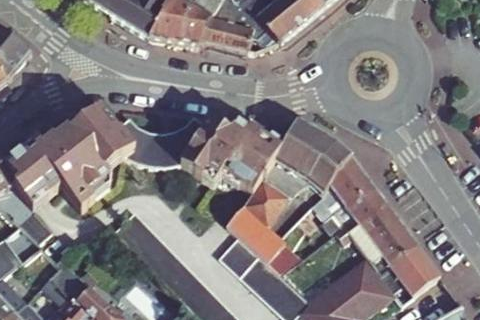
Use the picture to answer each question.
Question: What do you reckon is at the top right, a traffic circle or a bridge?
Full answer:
It is a traffic circle that can be seen at the top right.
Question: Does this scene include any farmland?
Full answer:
No, the picture contains no farmland.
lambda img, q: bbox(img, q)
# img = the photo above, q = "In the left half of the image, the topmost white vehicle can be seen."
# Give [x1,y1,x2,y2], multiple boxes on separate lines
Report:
[128,46,148,59]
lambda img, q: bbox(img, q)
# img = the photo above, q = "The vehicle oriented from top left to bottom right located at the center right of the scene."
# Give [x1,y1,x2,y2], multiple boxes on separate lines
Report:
[360,122,380,138]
